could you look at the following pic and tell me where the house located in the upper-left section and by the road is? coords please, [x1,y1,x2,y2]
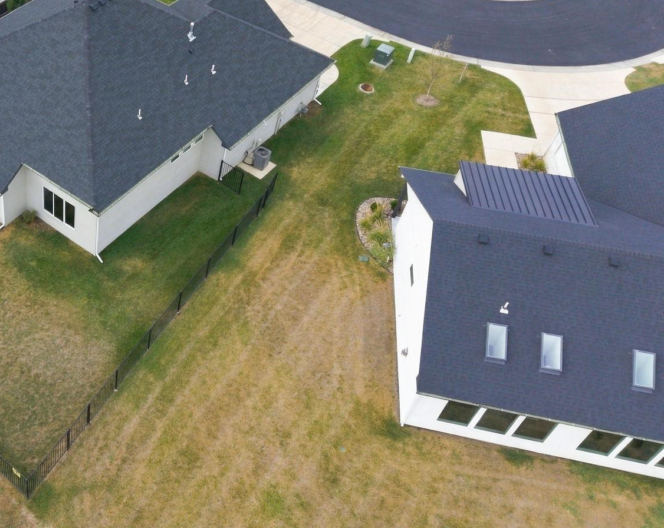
[0,0,340,268]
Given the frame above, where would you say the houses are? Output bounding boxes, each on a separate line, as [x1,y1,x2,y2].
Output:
[0,0,340,268]
[393,95,664,475]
